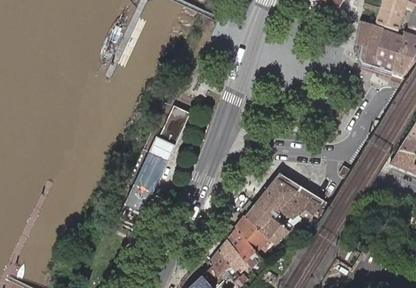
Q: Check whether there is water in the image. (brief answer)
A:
Yes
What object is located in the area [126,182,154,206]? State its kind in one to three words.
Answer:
building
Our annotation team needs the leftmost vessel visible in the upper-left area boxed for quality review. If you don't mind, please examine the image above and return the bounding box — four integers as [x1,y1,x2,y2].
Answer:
[98,6,128,64]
